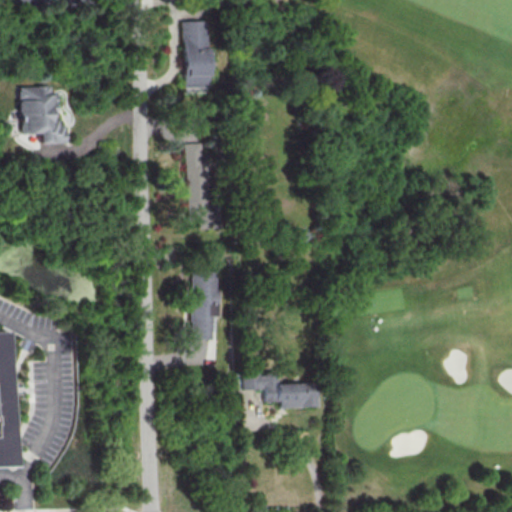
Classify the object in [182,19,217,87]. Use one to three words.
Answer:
house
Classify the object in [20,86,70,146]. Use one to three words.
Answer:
house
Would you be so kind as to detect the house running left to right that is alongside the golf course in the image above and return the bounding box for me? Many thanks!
[242,375,320,409]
